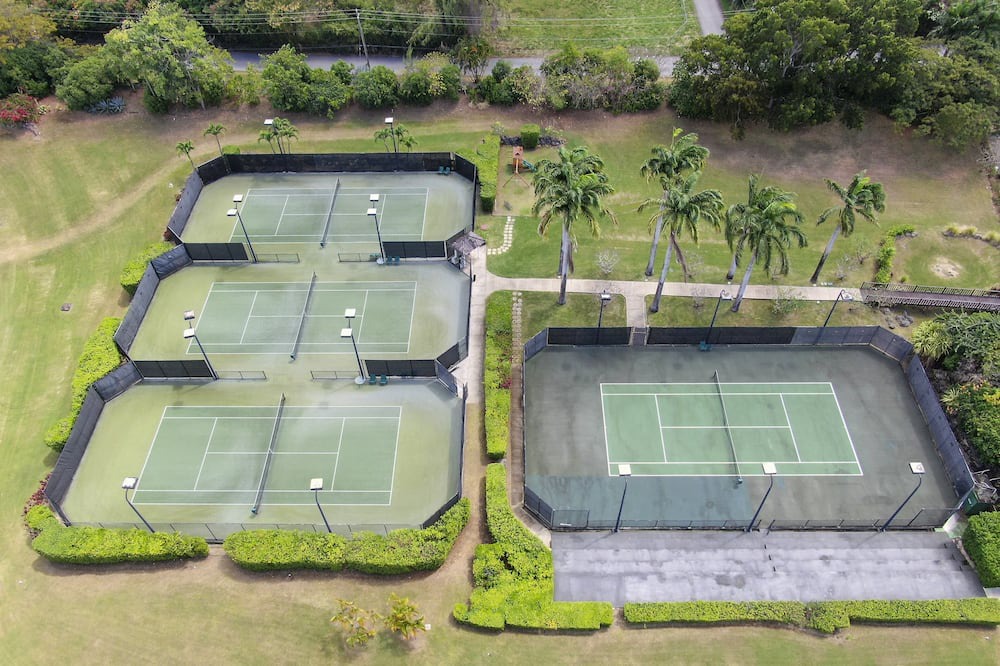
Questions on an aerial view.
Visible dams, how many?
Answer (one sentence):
No dams are visible.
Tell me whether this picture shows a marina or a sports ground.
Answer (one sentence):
It's a sports ground.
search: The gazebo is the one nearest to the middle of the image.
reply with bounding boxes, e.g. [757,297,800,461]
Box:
[450,233,486,271]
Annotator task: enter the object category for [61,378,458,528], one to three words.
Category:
tennis court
